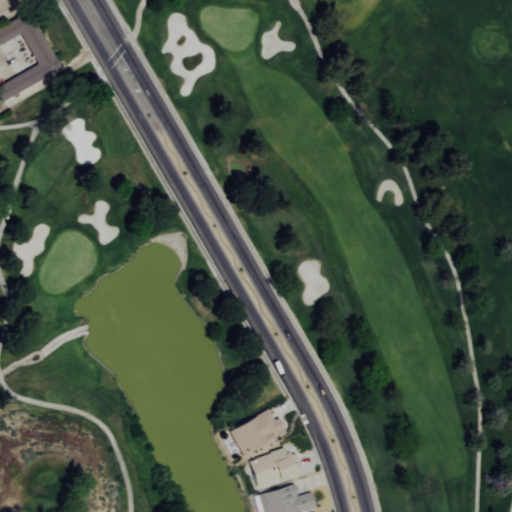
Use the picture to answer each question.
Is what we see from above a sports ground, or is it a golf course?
golf course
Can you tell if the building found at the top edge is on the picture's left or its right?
left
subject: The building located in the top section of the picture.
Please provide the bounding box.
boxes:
[0,11,62,102]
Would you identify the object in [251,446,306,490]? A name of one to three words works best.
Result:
house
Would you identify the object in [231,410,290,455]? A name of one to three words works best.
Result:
house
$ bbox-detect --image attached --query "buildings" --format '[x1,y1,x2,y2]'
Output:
[251,446,306,490]
[258,486,317,512]
[0,11,62,102]
[231,410,290,455]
